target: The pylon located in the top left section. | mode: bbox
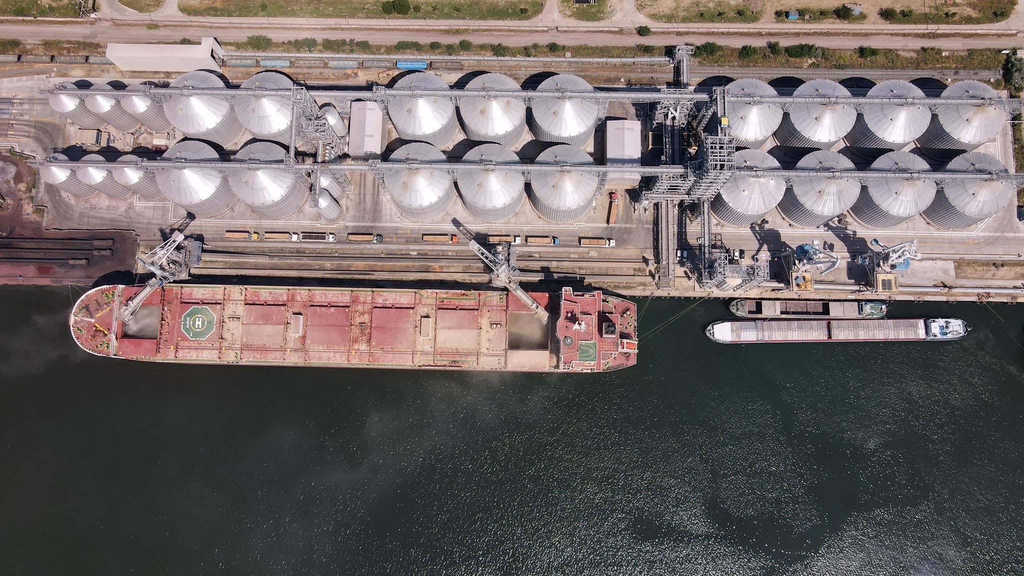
[67,0,99,21]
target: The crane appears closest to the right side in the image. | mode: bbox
[854,239,921,299]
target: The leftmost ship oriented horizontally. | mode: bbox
[66,284,639,373]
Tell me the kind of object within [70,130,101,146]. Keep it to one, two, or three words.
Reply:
shed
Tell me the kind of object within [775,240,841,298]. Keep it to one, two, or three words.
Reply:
crane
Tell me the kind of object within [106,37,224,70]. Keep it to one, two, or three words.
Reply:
building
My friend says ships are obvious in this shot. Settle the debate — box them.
[728,299,891,319]
[66,284,639,373]
[704,317,971,344]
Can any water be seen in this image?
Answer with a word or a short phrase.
Yes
